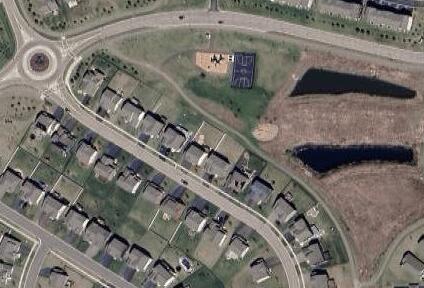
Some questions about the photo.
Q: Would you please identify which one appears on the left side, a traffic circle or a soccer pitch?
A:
traffic circle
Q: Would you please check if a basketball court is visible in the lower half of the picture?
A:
No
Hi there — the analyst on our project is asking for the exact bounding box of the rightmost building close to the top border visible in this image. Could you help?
[365,8,414,33]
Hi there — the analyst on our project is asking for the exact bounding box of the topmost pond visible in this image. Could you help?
[292,69,416,98]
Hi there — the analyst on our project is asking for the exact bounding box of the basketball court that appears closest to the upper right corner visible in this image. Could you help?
[231,52,256,89]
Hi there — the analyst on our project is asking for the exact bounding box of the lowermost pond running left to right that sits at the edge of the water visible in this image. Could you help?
[296,145,413,176]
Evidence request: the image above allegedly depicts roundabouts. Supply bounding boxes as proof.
[3,32,69,90]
